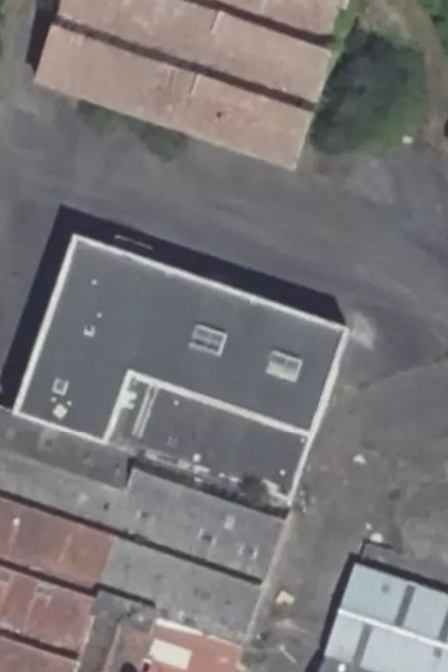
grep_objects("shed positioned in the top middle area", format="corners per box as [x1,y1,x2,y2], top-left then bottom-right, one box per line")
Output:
[33,0,350,171]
